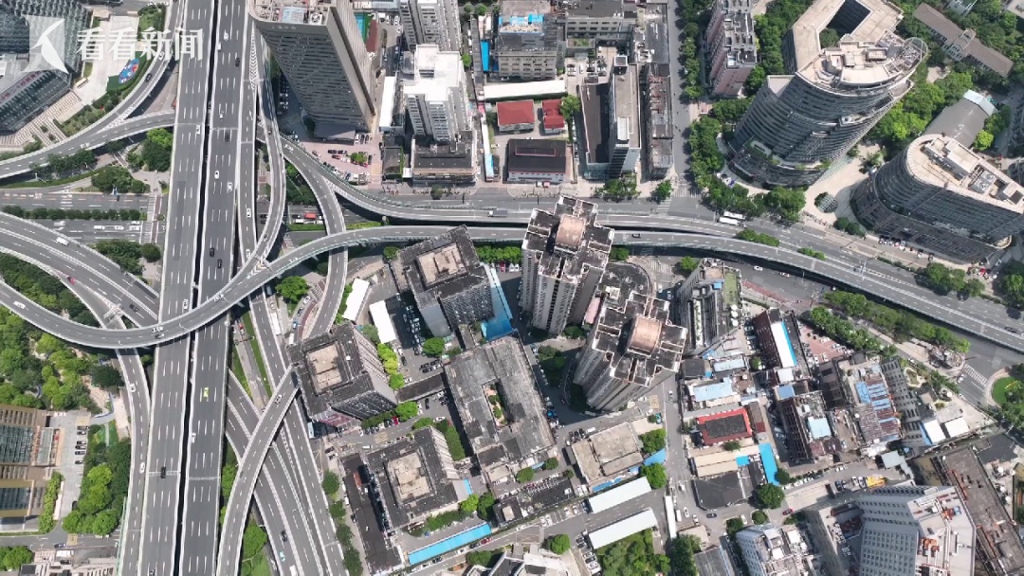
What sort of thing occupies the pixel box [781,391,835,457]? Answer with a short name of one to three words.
building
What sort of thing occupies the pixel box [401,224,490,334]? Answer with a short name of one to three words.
building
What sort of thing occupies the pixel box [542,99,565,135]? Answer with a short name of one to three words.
house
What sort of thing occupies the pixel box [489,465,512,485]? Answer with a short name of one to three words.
shed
